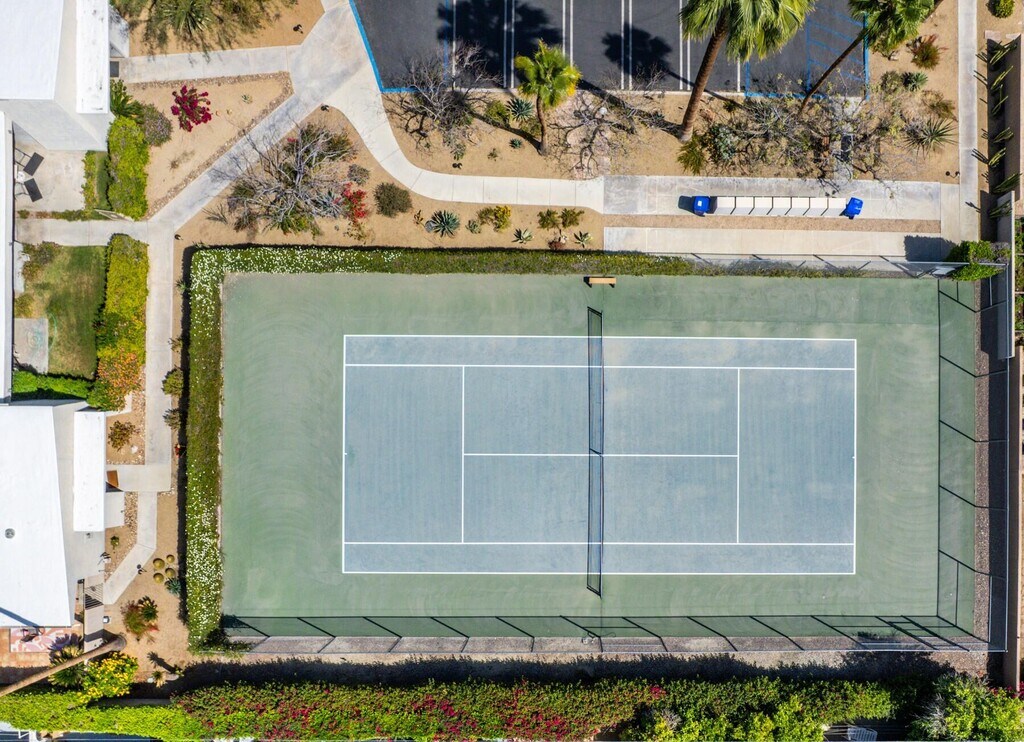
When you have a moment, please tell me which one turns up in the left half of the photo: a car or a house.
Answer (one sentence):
What appears in the left half of the photo is a house.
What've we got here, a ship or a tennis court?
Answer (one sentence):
It is a tennis court that can be seen here.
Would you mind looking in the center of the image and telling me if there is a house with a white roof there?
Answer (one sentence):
No, I see no house with a white roof in the center of the image.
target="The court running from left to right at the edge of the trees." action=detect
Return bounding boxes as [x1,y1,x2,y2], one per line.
[221,272,975,637]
